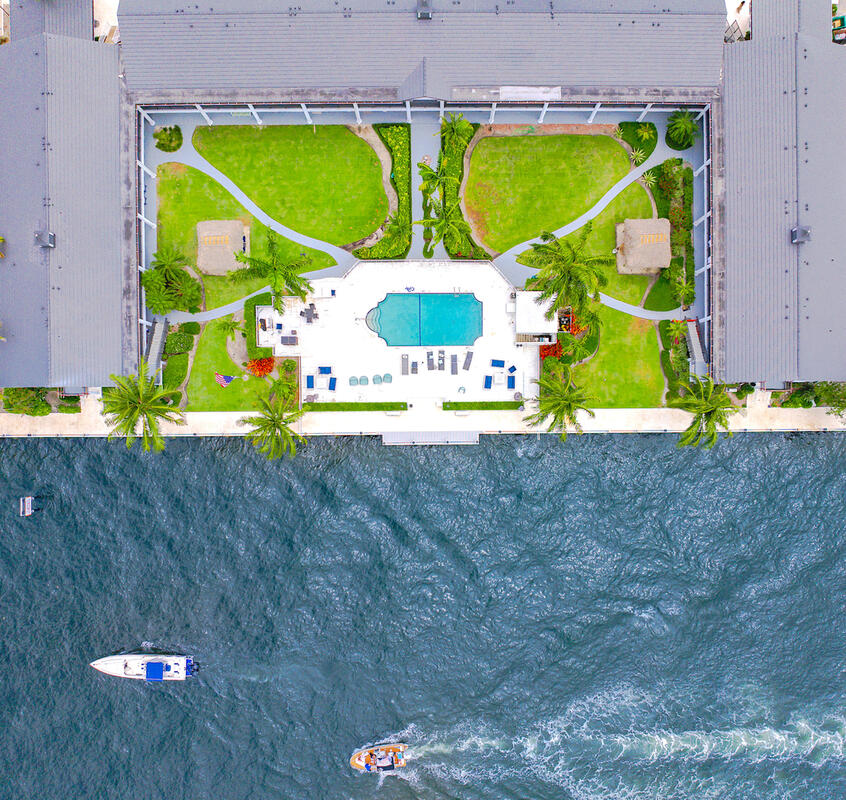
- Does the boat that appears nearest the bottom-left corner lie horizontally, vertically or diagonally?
horizontally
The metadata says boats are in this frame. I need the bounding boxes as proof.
[90,652,199,681]
[350,742,412,773]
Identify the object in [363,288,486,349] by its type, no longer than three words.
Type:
swimming pool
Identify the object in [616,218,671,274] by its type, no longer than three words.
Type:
shed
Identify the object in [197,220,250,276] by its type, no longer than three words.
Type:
shed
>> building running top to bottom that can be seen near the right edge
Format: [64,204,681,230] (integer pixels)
[692,31,846,382]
